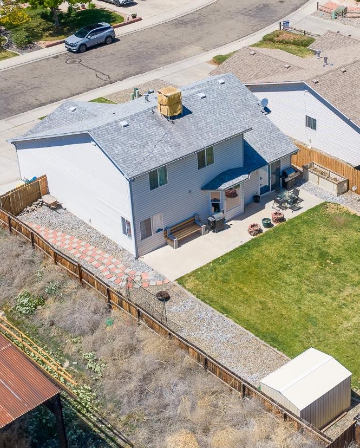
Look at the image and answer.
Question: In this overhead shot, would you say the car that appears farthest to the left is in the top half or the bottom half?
top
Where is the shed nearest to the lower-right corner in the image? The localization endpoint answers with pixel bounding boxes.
[261,350,350,436]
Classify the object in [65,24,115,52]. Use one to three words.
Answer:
car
